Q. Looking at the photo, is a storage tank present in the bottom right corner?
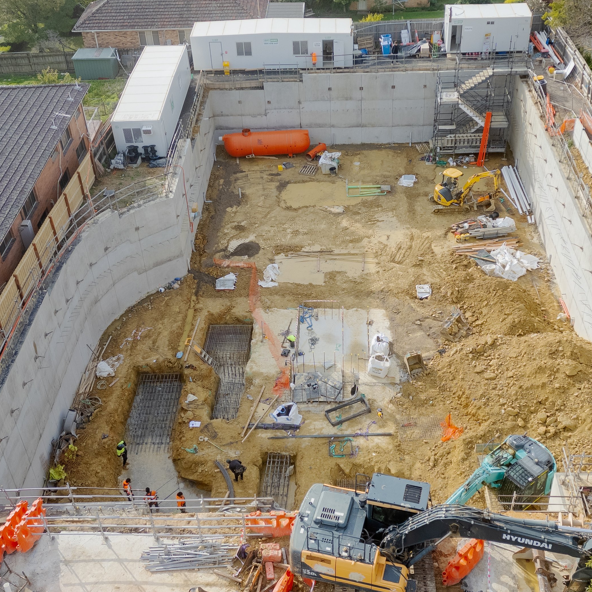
No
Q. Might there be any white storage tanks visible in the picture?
No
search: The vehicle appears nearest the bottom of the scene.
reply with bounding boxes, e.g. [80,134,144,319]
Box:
[296,474,592,592]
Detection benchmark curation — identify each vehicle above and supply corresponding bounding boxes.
[424,169,500,214]
[296,474,592,592]
[430,426,554,510]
